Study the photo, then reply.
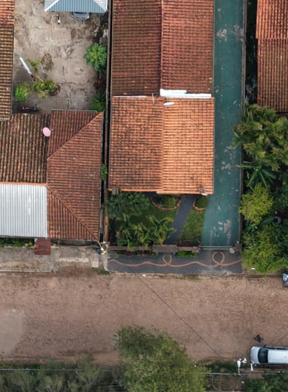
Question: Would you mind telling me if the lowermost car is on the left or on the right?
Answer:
right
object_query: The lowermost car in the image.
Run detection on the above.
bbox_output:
[249,343,288,368]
